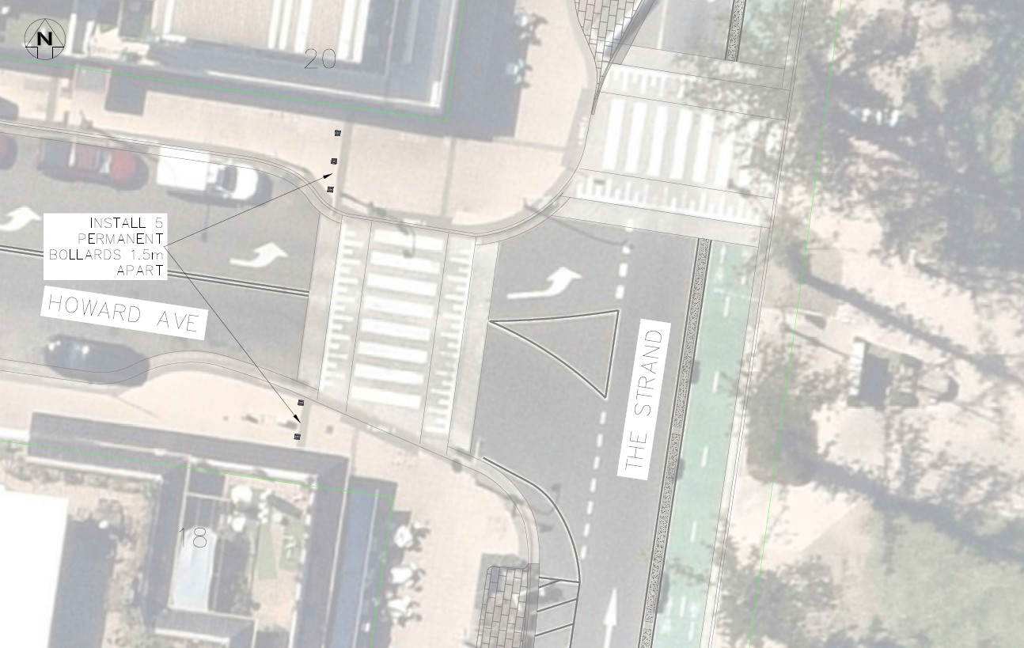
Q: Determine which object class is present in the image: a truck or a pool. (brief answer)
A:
truck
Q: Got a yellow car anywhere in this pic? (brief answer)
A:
No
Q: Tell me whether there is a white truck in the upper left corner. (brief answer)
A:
Yes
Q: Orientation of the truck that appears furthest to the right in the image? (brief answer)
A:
horizontally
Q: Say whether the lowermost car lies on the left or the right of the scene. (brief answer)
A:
left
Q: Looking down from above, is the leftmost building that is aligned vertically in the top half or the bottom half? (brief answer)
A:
bottom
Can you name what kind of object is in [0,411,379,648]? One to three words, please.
building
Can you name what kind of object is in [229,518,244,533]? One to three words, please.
umbrella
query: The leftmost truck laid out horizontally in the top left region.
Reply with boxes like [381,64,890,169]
[36,134,137,183]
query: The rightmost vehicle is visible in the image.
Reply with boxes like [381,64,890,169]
[153,146,260,196]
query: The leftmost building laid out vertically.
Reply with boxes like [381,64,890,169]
[0,489,71,648]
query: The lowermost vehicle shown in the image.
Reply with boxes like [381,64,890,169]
[43,334,134,380]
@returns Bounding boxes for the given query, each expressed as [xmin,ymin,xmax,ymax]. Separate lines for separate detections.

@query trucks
[36,134,137,183]
[153,146,260,196]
